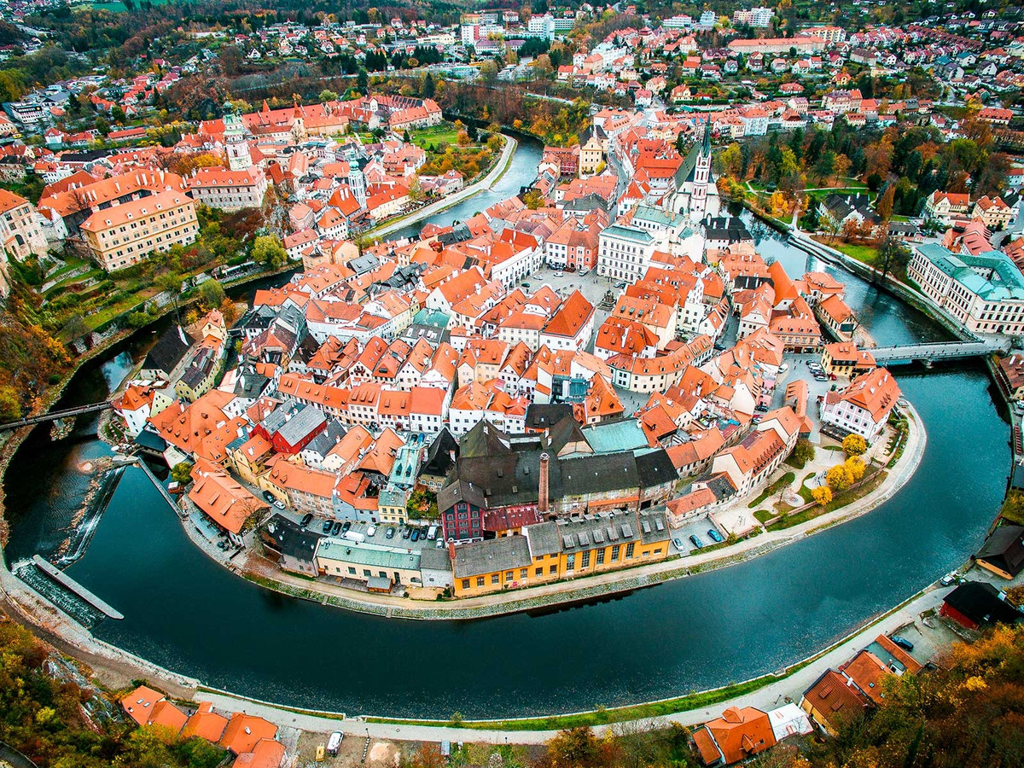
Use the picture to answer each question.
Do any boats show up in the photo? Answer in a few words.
No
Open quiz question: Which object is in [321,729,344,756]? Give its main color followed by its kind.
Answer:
white vehicle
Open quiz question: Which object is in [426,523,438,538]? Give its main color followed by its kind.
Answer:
white vehicle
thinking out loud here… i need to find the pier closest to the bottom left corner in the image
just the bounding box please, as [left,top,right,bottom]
[32,555,125,621]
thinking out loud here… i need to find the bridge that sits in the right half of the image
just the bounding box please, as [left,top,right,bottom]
[858,338,996,366]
